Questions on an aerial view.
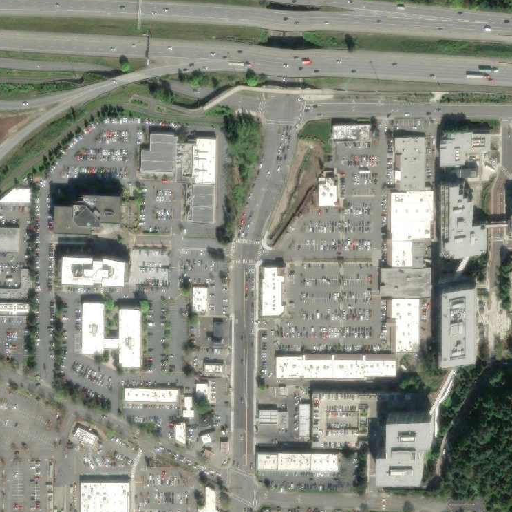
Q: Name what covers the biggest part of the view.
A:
paved ground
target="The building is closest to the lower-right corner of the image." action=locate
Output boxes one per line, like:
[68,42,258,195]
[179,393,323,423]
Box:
[375,411,432,488]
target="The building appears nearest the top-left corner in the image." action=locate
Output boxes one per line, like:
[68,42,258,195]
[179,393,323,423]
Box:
[0,187,30,205]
